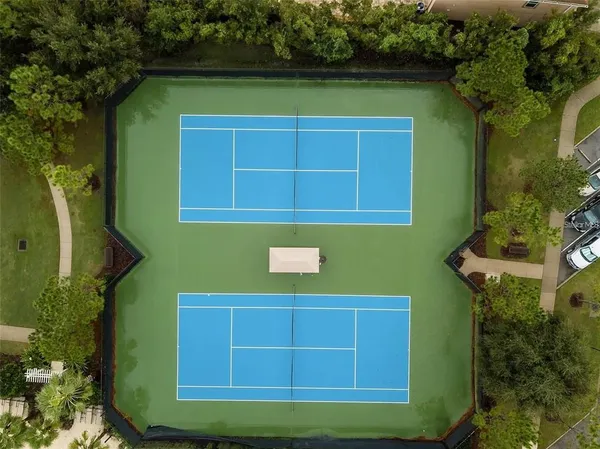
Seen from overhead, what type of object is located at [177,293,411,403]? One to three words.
tennis court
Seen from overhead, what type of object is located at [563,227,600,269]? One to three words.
car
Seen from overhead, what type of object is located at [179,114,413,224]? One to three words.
tennis court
